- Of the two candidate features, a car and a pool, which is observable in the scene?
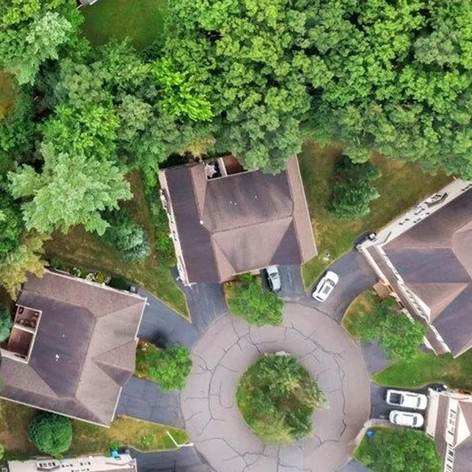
car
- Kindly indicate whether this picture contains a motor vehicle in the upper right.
No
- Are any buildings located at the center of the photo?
Yes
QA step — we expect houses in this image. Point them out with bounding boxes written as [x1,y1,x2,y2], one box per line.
[157,152,317,286]
[0,262,147,423]
[8,454,137,472]
[359,178,472,357]
[420,388,472,472]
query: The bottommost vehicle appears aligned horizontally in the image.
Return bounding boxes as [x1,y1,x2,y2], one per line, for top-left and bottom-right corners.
[390,411,426,431]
